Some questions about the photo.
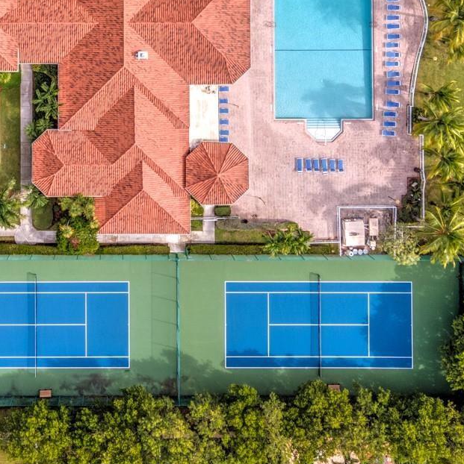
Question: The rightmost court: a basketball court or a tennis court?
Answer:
tennis court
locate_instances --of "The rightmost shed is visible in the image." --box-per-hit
[344,219,370,251]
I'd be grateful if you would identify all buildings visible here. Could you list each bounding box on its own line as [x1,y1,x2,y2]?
[344,219,370,251]
[0,0,251,235]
